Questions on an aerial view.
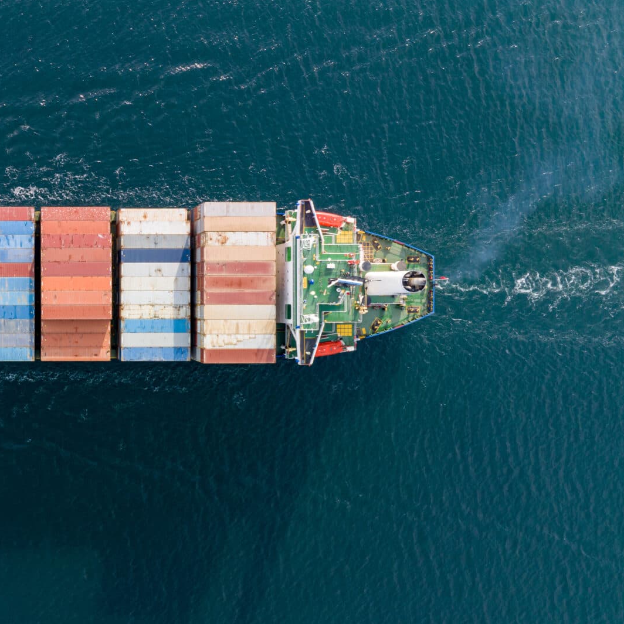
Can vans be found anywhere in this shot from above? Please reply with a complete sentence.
No, the frame has no van in it.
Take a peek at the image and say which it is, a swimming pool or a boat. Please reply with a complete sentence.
This aerial view contains a boat.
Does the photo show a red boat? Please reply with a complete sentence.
Yes, looking at the shot, I can spot a red boat.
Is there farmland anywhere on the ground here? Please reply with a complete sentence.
No, farmland can't be seen anywhere here.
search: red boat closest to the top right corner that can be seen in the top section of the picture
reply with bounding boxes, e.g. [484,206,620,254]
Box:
[318,212,344,229]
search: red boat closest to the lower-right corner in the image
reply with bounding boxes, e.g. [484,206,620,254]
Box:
[317,341,344,358]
